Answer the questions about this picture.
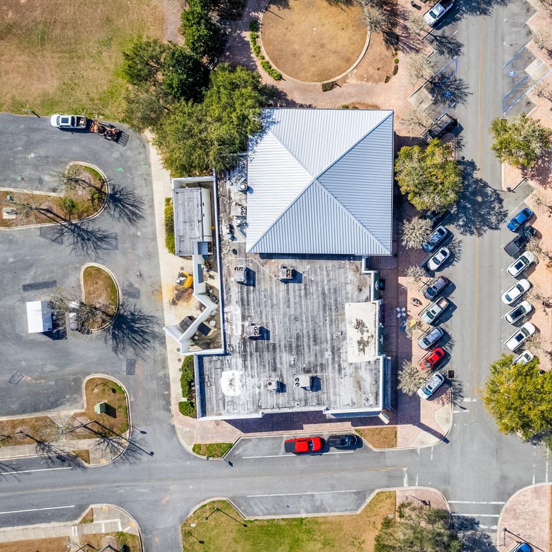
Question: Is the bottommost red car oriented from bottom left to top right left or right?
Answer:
right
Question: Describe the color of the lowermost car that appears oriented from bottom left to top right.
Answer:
white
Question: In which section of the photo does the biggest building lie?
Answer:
center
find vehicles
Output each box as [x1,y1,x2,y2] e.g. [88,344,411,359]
[421,346,446,371]
[69,301,84,332]
[420,372,446,400]
[420,204,447,229]
[420,296,452,326]
[505,300,531,326]
[423,226,449,253]
[507,207,533,232]
[505,323,534,352]
[421,112,459,145]
[422,274,450,301]
[512,543,532,552]
[505,227,534,258]
[502,279,531,305]
[326,434,361,449]
[417,325,446,351]
[507,251,534,278]
[426,246,453,273]
[284,437,324,454]
[50,113,87,129]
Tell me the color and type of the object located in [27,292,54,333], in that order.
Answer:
white trailer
